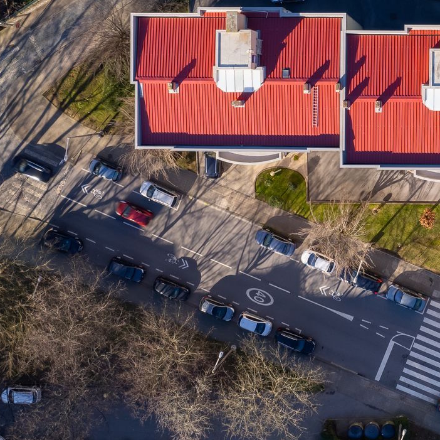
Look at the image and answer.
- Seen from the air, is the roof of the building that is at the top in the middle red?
Yes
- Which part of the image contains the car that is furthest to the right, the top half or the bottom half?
bottom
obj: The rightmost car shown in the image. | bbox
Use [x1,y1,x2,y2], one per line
[382,281,428,313]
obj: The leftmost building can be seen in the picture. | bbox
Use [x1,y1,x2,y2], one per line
[131,7,362,167]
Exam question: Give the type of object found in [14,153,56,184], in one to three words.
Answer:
car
